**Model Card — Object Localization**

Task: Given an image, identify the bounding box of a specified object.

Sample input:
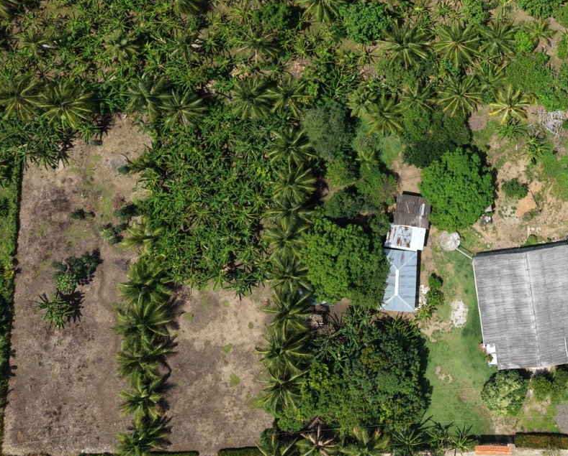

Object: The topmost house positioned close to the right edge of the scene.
[472,241,568,371]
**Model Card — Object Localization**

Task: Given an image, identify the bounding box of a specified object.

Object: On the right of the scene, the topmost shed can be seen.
[394,193,430,229]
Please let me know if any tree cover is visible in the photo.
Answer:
Yes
